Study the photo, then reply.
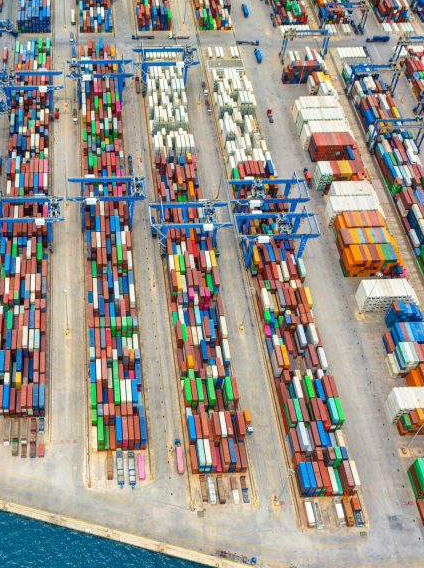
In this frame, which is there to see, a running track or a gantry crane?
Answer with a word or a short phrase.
gantry crane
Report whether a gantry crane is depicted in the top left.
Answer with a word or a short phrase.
Yes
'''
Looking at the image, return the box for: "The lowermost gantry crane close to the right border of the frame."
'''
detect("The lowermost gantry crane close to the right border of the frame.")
[367,118,424,160]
